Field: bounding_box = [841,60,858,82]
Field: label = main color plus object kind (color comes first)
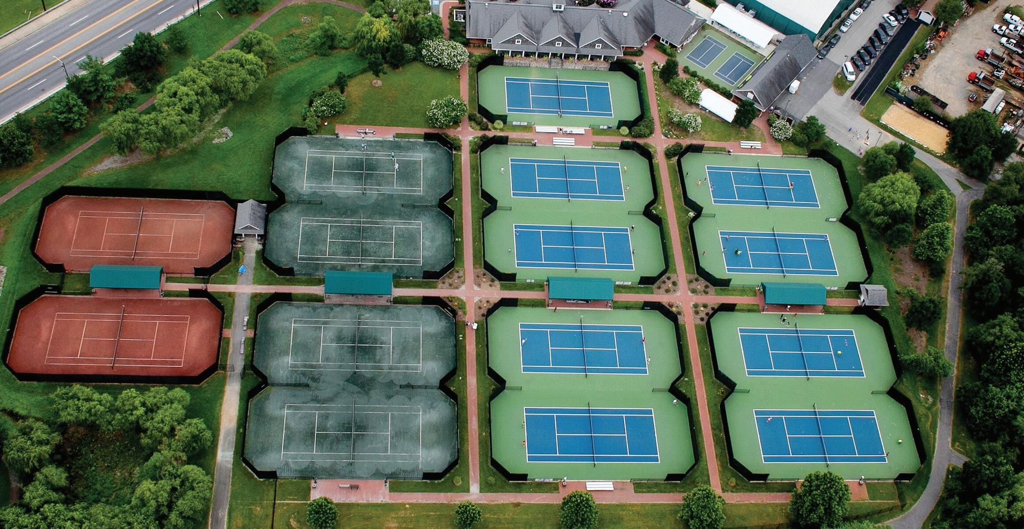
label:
white vehicle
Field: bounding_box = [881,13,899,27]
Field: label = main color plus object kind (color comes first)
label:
white car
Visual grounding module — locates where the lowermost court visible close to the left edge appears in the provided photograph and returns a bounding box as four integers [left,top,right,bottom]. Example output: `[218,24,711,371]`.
[6,297,224,376]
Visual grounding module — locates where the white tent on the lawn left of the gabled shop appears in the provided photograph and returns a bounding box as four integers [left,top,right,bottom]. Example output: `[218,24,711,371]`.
[697,92,741,129]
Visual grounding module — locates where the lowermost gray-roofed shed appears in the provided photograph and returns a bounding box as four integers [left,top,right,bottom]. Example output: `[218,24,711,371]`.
[856,284,889,312]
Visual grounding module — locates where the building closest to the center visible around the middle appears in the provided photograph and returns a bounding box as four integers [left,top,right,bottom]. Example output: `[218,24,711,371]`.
[547,276,613,308]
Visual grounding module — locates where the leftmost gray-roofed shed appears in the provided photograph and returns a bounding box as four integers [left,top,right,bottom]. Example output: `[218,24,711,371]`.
[234,198,268,242]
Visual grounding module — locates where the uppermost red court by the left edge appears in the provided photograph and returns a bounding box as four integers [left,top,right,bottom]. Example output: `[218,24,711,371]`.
[35,196,237,274]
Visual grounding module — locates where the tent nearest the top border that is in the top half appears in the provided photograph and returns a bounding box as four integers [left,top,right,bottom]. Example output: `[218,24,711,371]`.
[709,5,778,55]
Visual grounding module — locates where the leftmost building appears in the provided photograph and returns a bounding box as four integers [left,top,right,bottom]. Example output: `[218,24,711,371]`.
[90,264,164,296]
